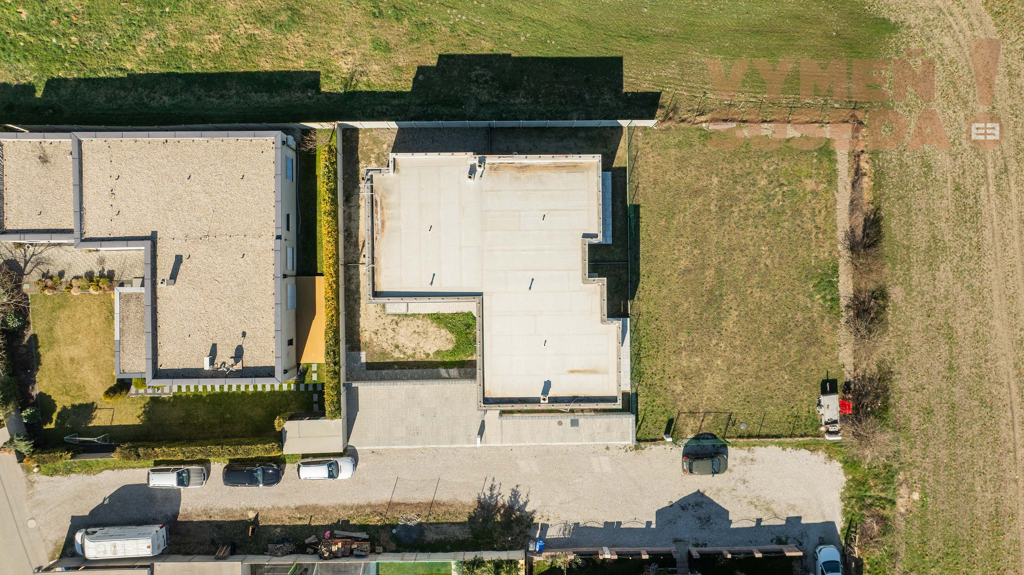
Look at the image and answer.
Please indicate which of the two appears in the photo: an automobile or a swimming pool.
automobile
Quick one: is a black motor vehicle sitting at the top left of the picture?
No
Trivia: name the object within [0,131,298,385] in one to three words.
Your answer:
house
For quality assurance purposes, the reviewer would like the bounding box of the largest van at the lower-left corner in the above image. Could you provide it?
[77,523,169,563]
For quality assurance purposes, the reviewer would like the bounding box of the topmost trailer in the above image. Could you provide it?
[814,380,841,426]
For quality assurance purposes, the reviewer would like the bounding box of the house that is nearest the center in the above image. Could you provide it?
[364,152,621,410]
